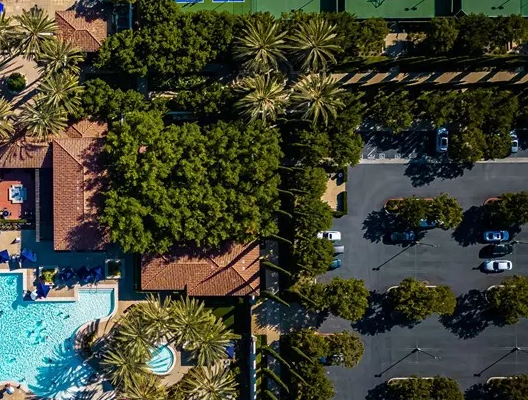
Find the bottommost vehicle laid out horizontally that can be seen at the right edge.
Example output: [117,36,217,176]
[486,259,514,273]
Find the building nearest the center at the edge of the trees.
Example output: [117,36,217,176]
[141,239,260,297]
